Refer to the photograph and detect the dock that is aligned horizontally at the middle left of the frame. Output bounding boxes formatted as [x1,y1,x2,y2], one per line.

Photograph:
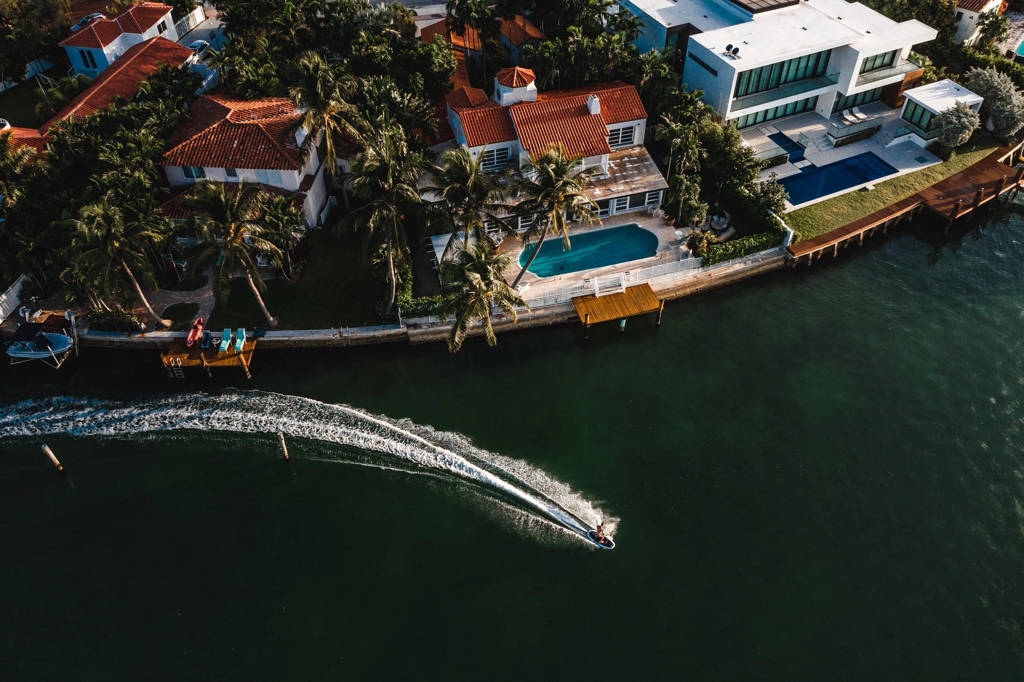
[161,338,258,380]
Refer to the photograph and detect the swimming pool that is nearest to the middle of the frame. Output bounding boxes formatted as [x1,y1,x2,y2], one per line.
[514,220,663,281]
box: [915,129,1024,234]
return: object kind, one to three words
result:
pier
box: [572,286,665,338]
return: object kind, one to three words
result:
pier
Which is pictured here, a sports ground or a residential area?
residential area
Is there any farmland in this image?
No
